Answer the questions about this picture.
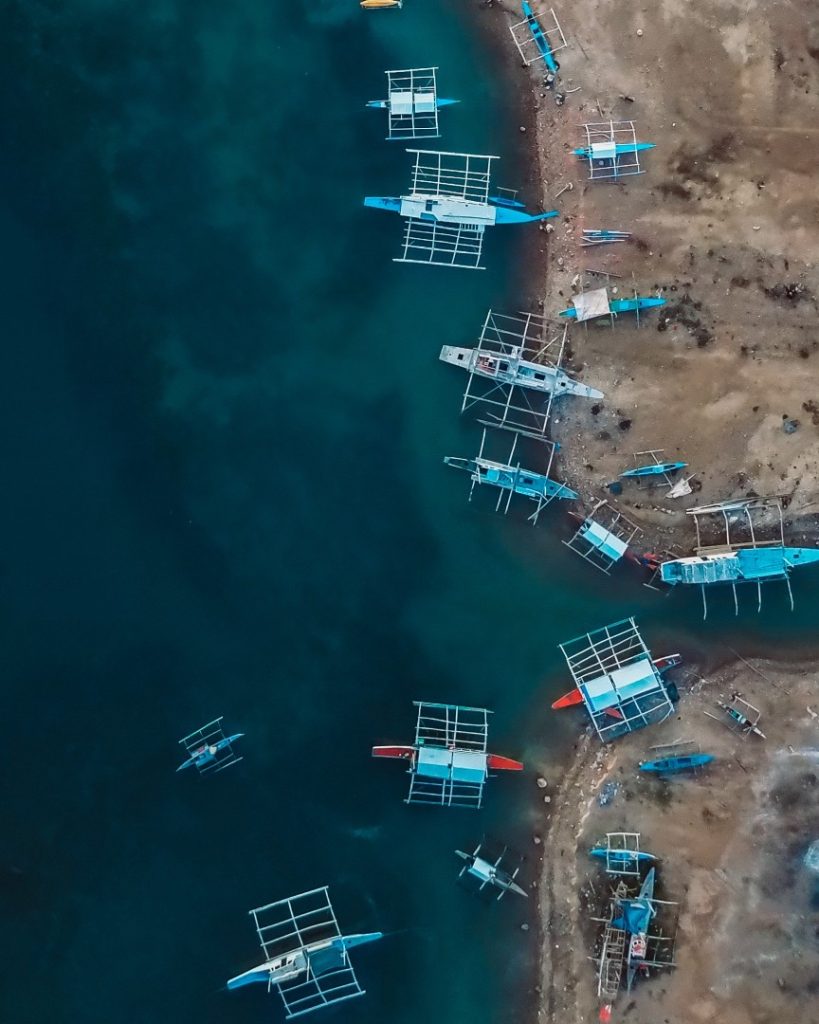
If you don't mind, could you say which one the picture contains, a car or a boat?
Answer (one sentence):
It is a boat that can be seen here.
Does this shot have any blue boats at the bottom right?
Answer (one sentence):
Yes, a blue boat is visible at the bottom right.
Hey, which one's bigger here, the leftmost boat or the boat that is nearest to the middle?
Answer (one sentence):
The boat that is nearest to the middle takes up more space than the leftmost boat.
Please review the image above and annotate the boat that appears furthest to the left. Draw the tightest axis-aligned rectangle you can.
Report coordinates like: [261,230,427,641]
[175,716,245,774]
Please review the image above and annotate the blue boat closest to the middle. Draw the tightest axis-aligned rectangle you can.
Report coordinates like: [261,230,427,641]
[444,428,579,525]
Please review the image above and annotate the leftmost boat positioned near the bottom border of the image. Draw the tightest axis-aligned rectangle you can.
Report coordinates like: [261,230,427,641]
[226,886,419,1019]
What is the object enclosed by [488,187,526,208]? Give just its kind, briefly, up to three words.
boat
